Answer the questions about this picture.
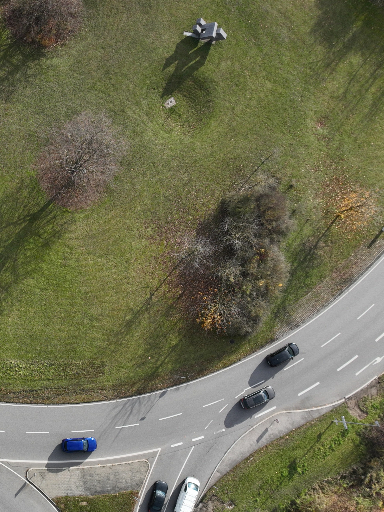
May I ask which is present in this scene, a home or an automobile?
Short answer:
automobile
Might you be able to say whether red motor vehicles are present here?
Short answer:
No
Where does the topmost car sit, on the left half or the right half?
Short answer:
right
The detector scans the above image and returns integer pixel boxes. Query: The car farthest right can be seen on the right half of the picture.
[263,342,299,367]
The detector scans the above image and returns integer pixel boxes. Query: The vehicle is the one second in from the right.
[237,385,275,410]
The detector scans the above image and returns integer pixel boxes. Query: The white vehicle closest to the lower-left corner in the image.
[174,475,200,512]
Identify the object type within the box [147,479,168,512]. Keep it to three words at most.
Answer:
car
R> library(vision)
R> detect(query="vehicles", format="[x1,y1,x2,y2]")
[61,436,97,454]
[147,479,168,512]
[237,385,275,410]
[263,342,299,367]
[174,475,200,512]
